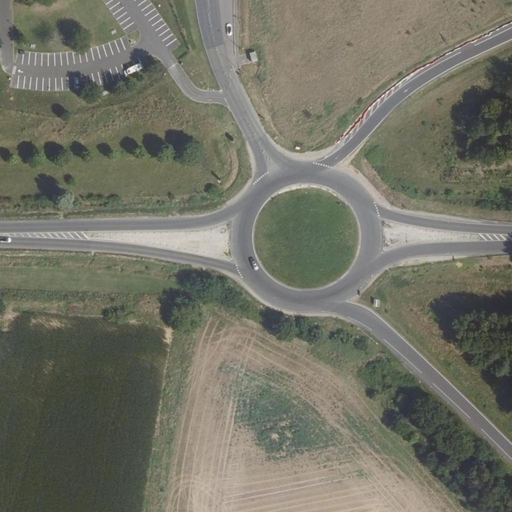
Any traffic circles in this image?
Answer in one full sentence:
Yes, the photo shows a traffic circle.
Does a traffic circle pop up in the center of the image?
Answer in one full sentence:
Yes, a traffic circle can be seen in the center of the image.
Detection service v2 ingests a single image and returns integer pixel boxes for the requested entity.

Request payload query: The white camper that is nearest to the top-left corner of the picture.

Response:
[123,63,142,76]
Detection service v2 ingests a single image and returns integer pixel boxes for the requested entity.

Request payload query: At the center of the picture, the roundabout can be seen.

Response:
[214,162,382,314]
